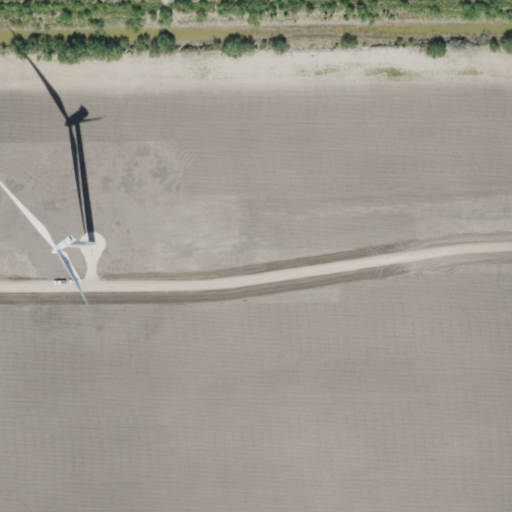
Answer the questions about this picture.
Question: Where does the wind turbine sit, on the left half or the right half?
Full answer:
The wind turbine is on the left side of the image.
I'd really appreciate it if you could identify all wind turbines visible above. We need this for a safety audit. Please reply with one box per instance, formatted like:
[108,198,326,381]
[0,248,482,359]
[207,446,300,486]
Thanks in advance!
[0,178,97,305]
